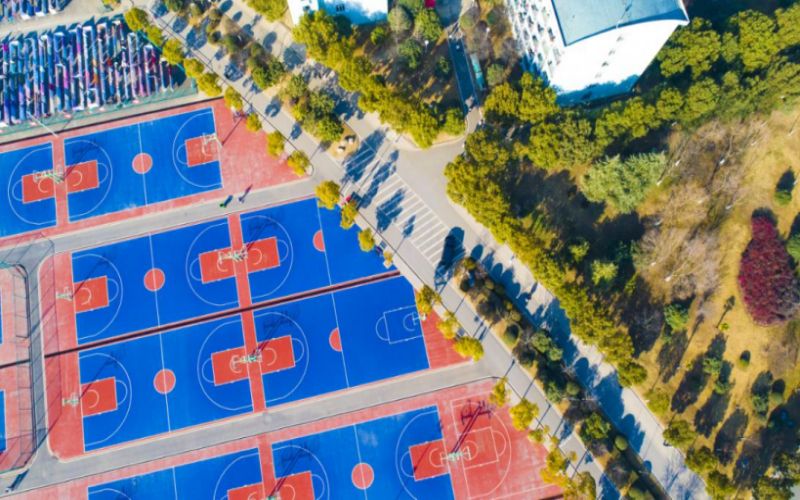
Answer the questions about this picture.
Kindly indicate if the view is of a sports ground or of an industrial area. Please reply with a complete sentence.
What you see here is a sports ground.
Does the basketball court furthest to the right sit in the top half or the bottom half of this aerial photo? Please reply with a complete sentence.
Seen from above, the basketball court furthest to the right lies in the bottom half of the view.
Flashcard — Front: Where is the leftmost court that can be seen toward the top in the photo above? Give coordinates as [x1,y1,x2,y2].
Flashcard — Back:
[0,141,56,238]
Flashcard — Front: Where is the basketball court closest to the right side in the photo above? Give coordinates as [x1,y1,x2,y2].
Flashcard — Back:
[449,390,562,500]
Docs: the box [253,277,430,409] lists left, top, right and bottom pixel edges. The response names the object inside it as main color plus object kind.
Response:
blue basketball court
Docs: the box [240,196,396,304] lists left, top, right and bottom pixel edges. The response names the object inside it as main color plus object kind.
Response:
blue basketball court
